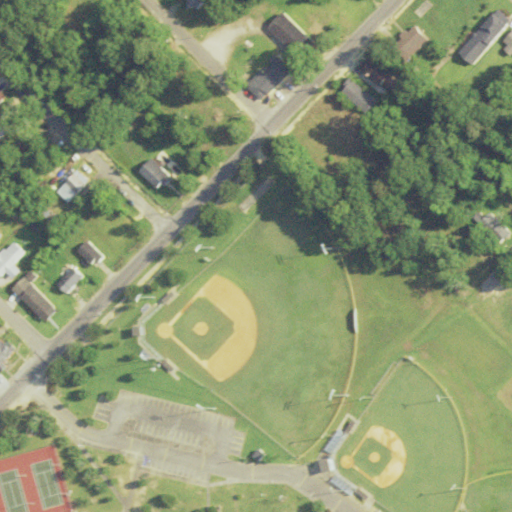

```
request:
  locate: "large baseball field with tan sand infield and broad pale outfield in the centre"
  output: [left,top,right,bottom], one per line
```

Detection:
[144,192,358,460]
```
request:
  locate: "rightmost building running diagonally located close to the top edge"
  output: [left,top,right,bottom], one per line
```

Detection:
[460,10,511,64]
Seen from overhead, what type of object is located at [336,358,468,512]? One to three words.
baseball field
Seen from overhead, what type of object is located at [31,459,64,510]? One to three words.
tennis court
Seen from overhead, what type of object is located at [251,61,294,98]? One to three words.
house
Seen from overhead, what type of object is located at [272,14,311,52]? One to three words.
house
